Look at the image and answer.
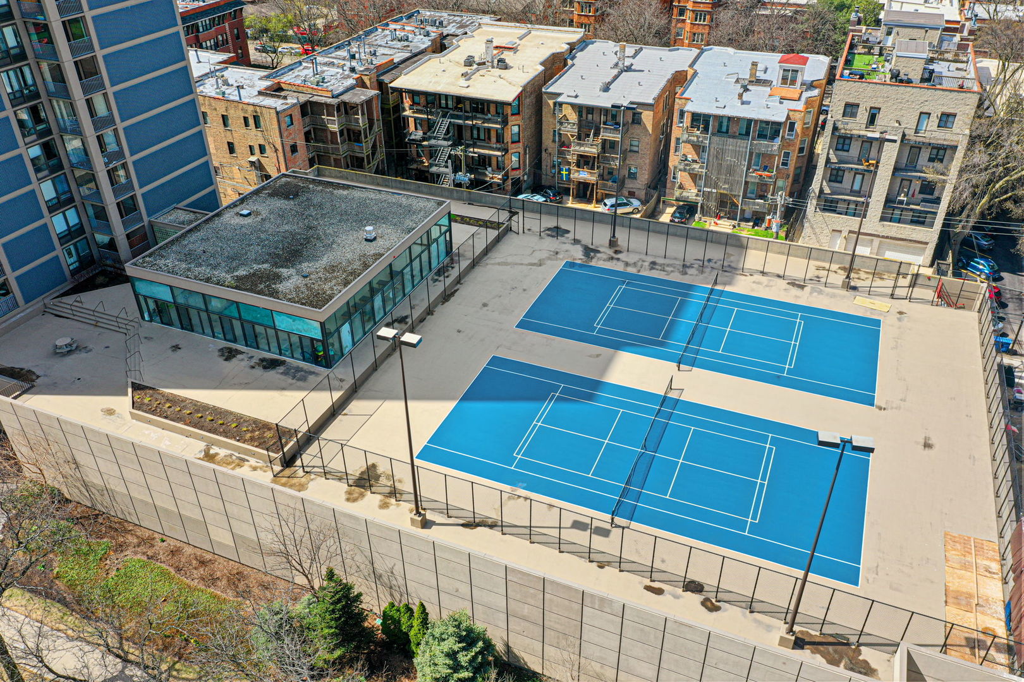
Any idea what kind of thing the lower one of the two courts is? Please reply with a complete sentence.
It turns out the lower one of the two courts is a tennis court.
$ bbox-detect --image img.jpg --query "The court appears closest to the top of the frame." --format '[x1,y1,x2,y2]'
[514,260,881,407]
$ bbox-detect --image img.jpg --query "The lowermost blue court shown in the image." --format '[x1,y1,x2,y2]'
[414,356,870,587]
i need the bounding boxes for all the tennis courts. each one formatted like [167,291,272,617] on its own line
[514,260,881,407]
[414,356,870,587]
